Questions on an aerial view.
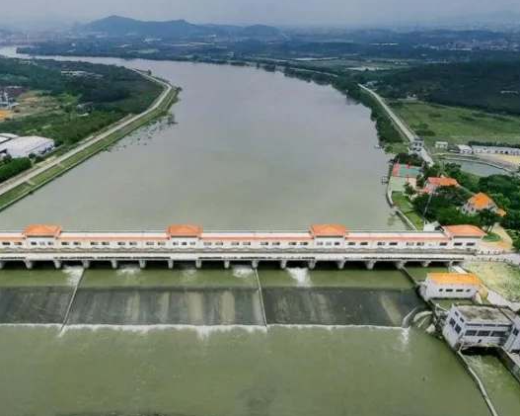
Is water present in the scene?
Yes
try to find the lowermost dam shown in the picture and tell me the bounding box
[0,290,421,326]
